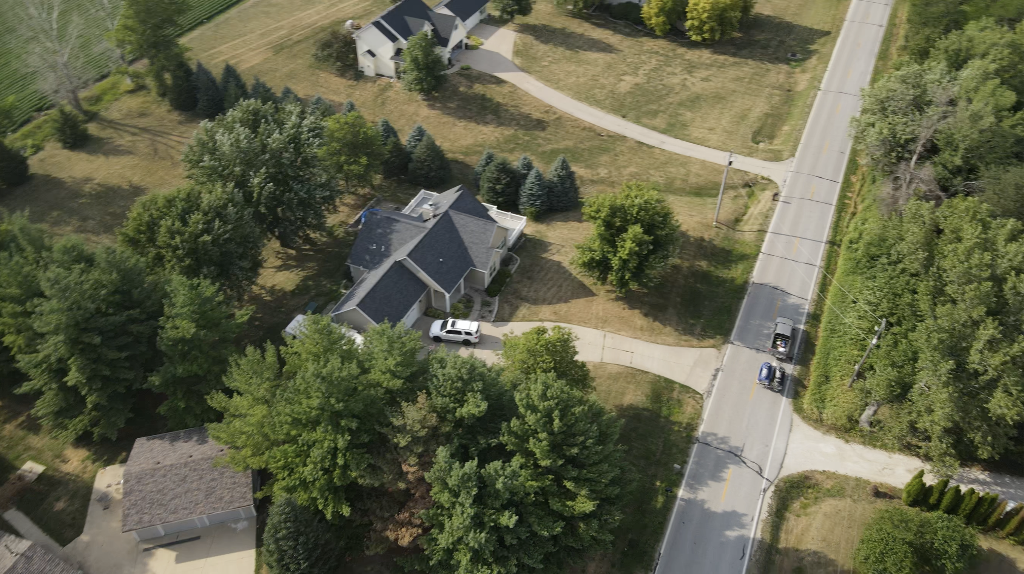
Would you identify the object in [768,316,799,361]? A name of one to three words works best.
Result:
truck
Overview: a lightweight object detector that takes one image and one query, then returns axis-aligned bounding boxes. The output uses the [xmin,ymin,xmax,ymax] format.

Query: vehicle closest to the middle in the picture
[428,320,478,346]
